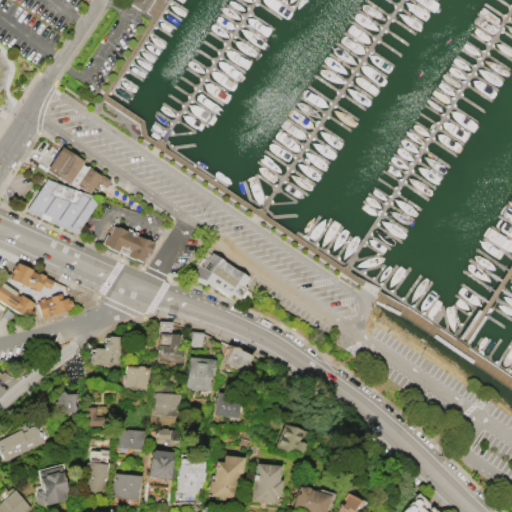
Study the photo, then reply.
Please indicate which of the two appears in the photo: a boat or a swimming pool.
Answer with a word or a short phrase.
boat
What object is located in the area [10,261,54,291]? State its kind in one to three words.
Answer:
building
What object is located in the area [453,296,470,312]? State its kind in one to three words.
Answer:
boat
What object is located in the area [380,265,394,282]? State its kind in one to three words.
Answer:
boat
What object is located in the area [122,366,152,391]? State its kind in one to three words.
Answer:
house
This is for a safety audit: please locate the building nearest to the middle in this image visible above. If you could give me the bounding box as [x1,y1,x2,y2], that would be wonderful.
[198,252,250,298]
